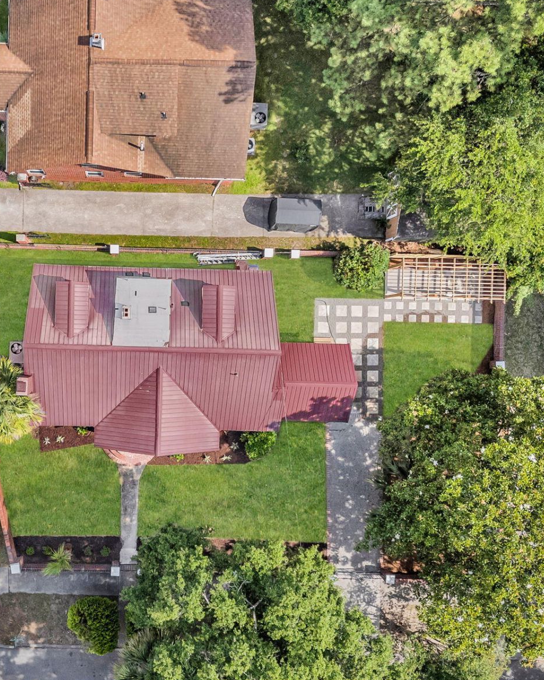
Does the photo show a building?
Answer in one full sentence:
Yes, there's a building here.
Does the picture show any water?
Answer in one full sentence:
No, water can't be seen anywhere here.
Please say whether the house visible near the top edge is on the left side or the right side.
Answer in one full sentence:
The house visible near the top edge appears in the left half of the scene.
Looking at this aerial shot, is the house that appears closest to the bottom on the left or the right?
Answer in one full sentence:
The house that appears closest to the bottom sits on the left side.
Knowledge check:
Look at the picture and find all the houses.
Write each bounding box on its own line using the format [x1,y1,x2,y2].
[15,263,358,466]
[0,0,257,198]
